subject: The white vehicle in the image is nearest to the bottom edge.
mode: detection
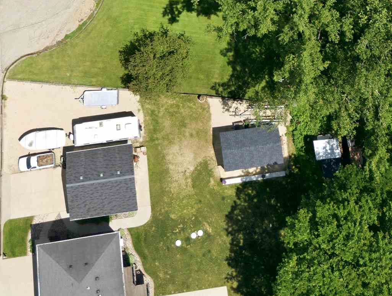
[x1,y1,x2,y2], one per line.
[18,150,57,173]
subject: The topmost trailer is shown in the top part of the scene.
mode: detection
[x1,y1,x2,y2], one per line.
[75,87,121,109]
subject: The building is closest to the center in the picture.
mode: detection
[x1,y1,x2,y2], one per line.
[220,126,283,172]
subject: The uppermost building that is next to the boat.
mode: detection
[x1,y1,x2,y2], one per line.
[66,142,138,221]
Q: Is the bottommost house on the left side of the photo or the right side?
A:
left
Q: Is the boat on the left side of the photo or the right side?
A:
left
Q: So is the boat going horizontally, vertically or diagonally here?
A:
horizontally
